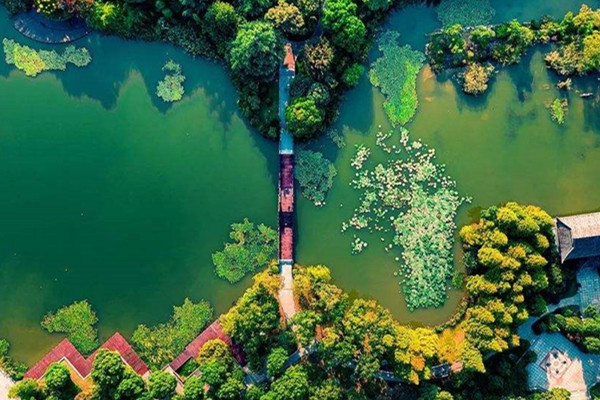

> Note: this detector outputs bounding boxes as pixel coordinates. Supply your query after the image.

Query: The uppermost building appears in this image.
[548,212,600,264]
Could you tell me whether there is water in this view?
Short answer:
Yes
